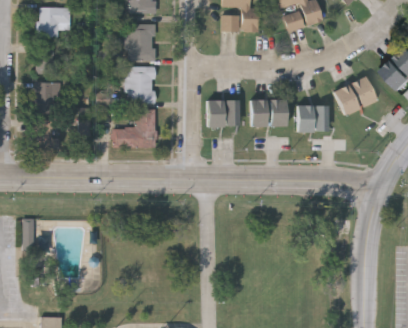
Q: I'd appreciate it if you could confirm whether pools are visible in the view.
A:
Yes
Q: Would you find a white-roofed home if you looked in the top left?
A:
Yes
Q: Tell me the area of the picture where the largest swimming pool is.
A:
bottom left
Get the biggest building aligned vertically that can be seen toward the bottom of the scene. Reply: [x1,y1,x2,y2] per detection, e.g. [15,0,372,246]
[21,218,34,250]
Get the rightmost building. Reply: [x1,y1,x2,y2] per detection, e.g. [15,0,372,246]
[376,48,408,88]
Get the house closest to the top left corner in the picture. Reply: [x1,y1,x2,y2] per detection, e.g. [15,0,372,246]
[38,6,70,36]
